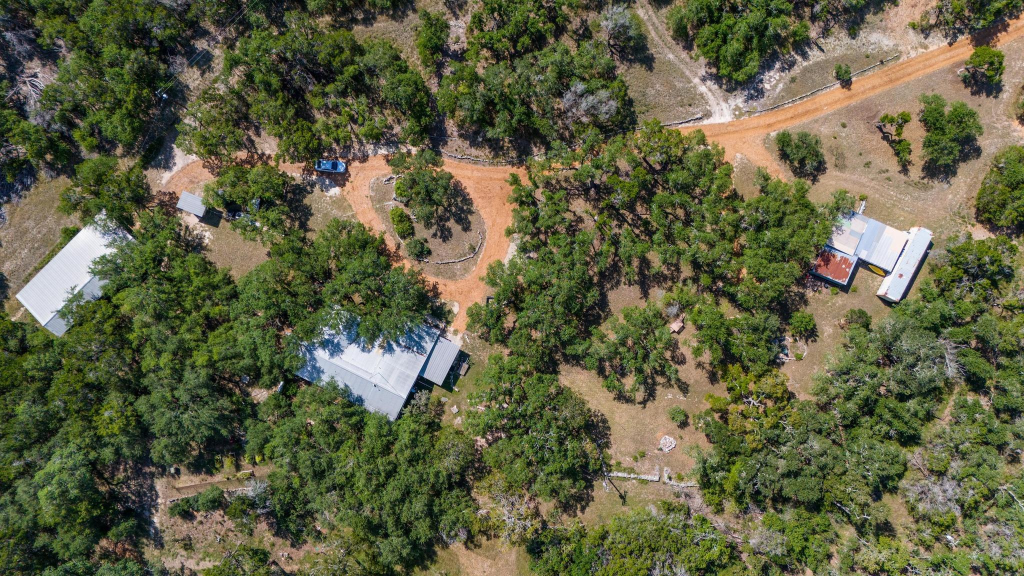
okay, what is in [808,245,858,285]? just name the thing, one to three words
shed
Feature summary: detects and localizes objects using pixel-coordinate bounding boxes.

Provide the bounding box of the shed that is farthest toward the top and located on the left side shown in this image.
[177,191,213,217]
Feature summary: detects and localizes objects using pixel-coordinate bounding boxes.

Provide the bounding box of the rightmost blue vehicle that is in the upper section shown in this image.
[314,159,345,173]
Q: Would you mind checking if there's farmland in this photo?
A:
No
